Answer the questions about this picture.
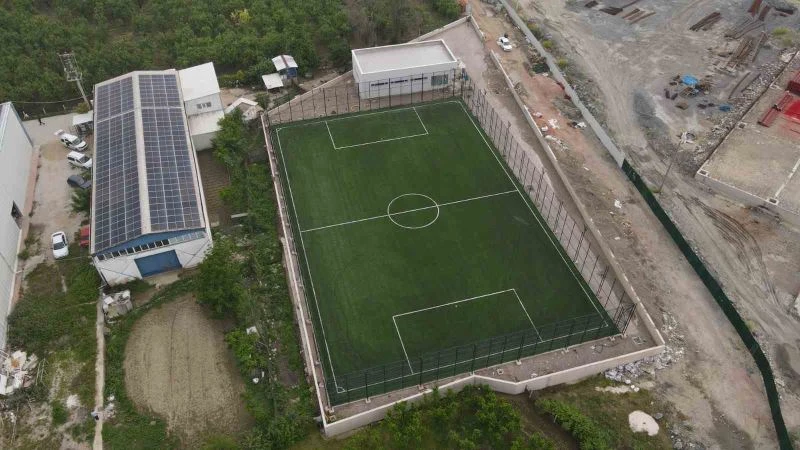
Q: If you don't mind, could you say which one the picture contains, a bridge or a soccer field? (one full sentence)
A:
I can see a soccer field in this picture.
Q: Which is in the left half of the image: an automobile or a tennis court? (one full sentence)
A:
It is an automobile that can be seen in the left half of the image.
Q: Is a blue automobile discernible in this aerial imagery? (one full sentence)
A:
No, there's no blue automobile here.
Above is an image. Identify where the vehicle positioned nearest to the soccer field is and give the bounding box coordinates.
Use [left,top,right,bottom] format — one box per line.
[496,38,512,50]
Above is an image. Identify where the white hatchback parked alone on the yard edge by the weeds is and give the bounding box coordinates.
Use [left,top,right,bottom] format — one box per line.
[48,233,68,259]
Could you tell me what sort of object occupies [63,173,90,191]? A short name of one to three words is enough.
car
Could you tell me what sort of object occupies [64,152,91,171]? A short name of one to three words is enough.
vehicle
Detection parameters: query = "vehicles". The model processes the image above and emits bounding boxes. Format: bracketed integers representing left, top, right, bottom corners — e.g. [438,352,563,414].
[63,173,90,191]
[77,224,89,248]
[52,128,88,149]
[496,38,512,50]
[48,233,68,259]
[64,152,91,171]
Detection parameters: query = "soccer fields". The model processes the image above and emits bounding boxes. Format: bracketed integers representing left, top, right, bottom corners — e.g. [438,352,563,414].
[270,94,626,410]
